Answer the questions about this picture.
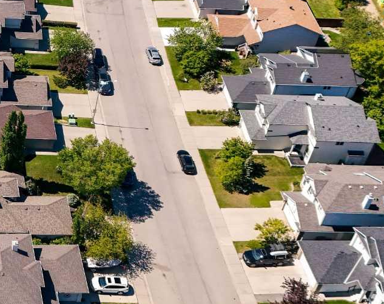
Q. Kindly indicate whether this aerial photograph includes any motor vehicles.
Yes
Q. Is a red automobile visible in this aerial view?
No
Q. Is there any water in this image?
No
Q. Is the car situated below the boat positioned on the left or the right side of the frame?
left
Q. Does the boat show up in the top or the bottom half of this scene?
bottom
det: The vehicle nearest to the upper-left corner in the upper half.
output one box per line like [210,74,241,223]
[93,49,106,68]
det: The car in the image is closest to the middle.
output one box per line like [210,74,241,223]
[176,148,196,176]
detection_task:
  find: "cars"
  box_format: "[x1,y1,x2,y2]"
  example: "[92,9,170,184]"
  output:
[93,49,106,68]
[91,274,132,294]
[176,148,196,176]
[97,73,111,94]
[245,246,288,265]
[146,46,161,66]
